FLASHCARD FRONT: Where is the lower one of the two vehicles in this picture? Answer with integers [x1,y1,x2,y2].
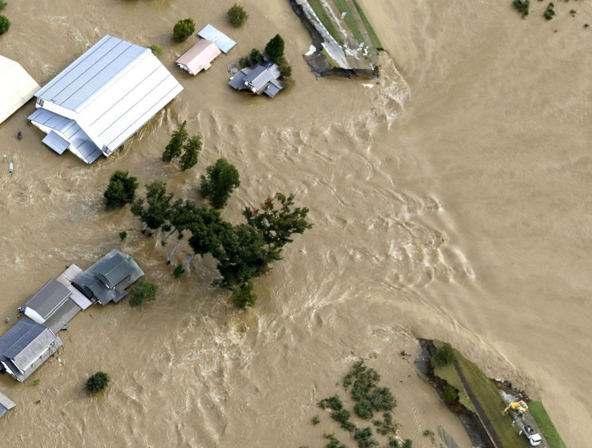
[523,422,543,445]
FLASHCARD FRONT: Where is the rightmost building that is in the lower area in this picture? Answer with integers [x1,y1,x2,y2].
[76,249,145,306]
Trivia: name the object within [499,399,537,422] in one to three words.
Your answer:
work vehicle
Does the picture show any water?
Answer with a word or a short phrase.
Yes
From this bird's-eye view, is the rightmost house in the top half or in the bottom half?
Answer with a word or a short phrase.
top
